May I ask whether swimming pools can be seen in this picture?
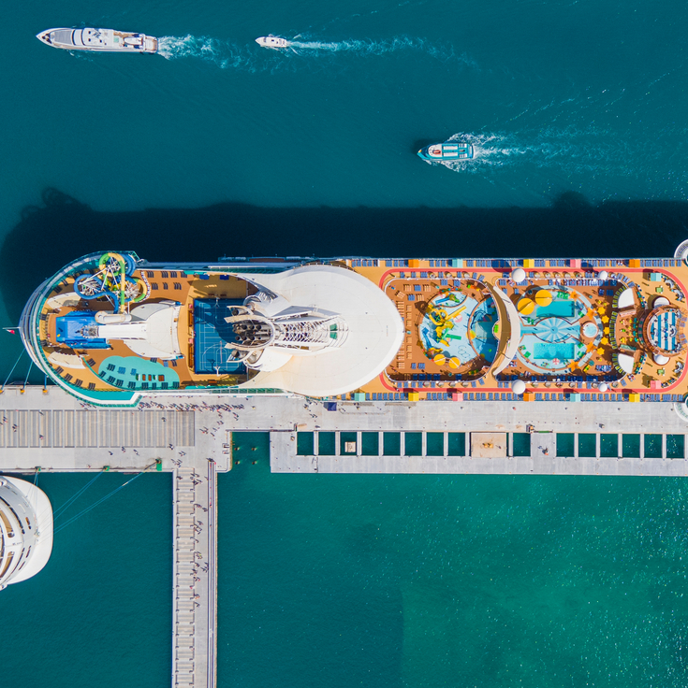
Yes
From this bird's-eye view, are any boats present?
Yes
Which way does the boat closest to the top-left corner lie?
from left to right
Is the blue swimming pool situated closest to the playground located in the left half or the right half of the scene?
right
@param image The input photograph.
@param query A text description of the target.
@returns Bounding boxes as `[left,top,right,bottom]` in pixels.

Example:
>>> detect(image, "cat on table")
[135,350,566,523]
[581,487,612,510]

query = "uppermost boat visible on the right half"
[417,142,474,161]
